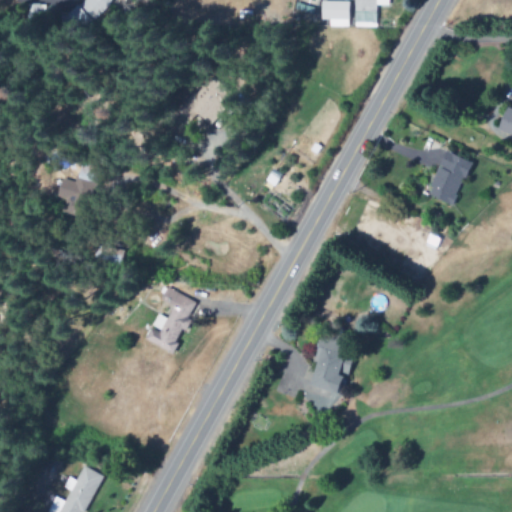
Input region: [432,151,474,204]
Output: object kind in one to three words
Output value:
house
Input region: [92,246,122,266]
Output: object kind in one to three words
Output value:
house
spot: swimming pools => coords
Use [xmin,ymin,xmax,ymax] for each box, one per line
[369,293,387,311]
